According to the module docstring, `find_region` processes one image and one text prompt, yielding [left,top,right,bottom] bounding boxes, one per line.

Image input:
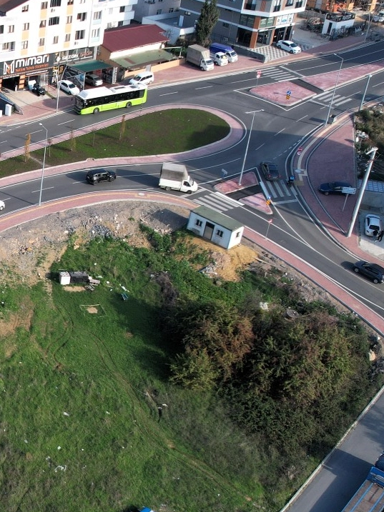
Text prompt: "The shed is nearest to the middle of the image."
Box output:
[187,200,252,246]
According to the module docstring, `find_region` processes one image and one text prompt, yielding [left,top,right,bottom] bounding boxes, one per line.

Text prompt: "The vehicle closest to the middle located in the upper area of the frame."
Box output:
[155,164,203,194]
